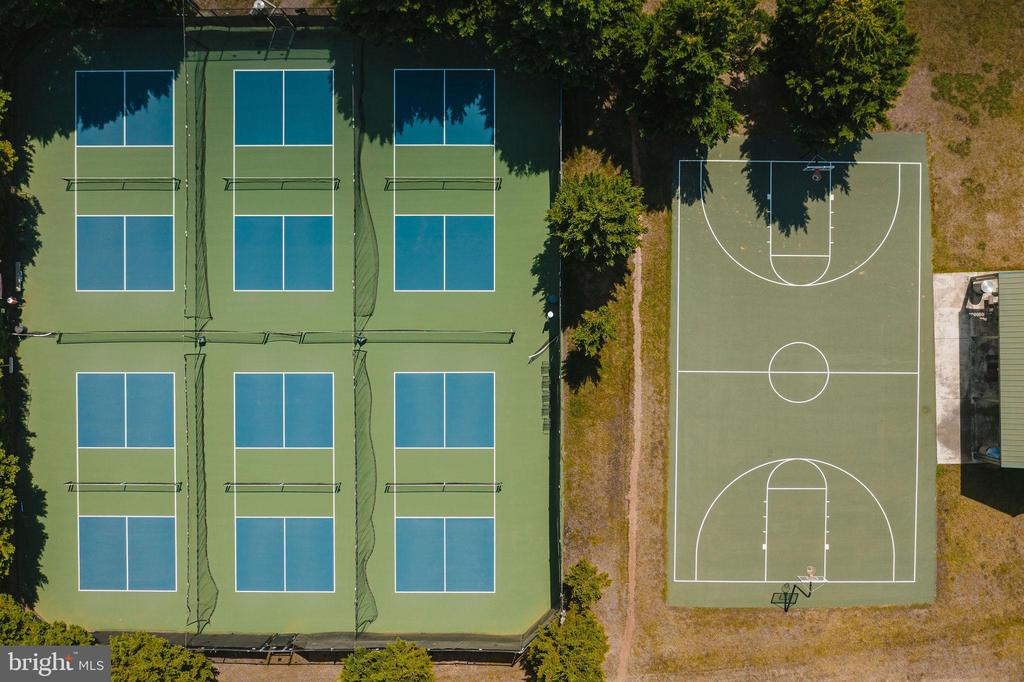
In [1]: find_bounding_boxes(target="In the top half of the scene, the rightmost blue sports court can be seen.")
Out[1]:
[394,69,495,292]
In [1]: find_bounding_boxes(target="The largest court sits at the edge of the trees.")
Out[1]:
[666,133,937,608]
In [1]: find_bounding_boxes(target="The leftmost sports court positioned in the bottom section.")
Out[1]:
[76,372,177,592]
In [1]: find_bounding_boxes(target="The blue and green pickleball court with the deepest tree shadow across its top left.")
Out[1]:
[75,70,174,292]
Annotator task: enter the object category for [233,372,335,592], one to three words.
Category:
sports court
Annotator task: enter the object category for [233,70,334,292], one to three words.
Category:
sports court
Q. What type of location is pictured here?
sports ground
